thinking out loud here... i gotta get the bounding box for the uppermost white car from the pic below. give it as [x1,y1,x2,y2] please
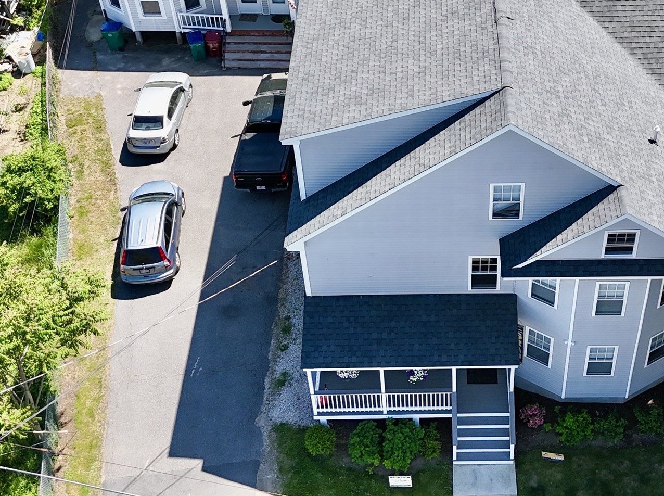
[119,69,192,158]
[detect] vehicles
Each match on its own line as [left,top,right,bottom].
[231,73,294,191]
[120,178,188,282]
[119,69,192,158]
